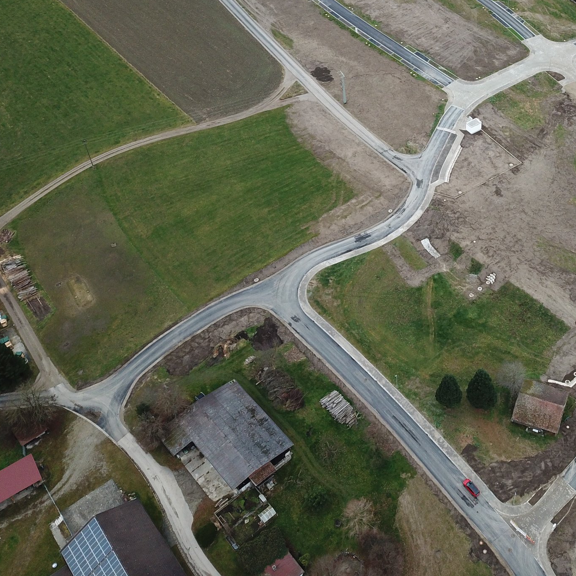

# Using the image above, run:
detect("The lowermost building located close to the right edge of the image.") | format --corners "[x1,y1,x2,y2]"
[512,381,568,438]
